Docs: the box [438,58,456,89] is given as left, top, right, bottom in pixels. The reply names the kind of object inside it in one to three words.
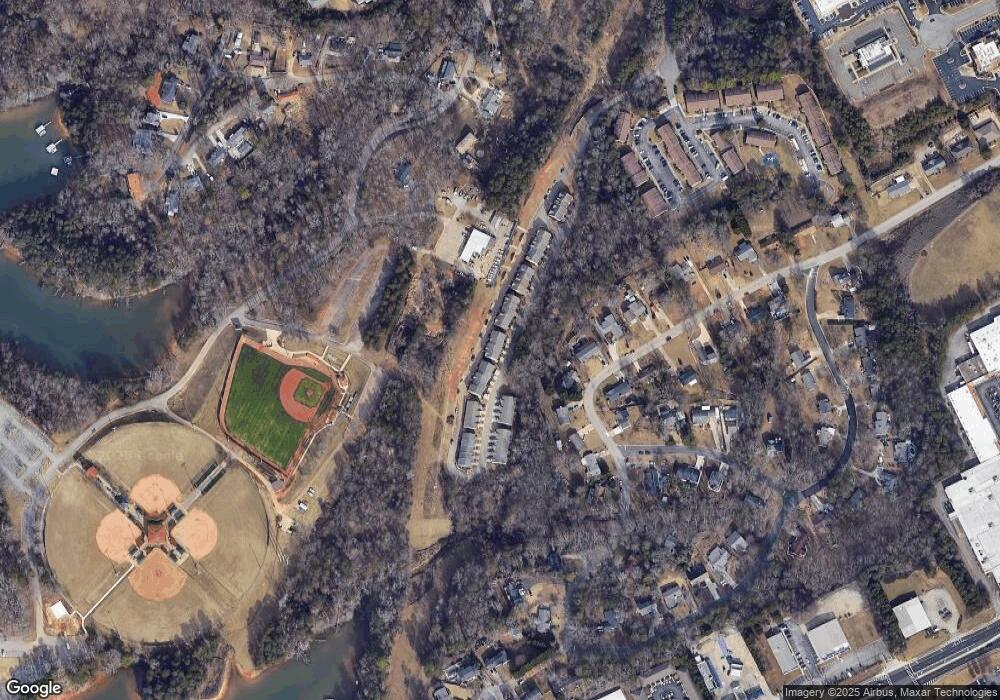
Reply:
house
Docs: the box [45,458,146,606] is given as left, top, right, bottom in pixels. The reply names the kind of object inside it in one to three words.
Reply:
baseball field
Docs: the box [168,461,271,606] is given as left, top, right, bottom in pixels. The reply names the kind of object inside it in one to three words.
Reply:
baseball field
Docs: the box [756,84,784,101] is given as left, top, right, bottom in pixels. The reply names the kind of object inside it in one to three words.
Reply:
building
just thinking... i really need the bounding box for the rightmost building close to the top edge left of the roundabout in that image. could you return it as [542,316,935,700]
[853,27,895,72]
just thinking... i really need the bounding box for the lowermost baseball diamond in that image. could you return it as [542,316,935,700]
[85,545,232,645]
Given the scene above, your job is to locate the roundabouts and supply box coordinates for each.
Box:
[919,15,953,50]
